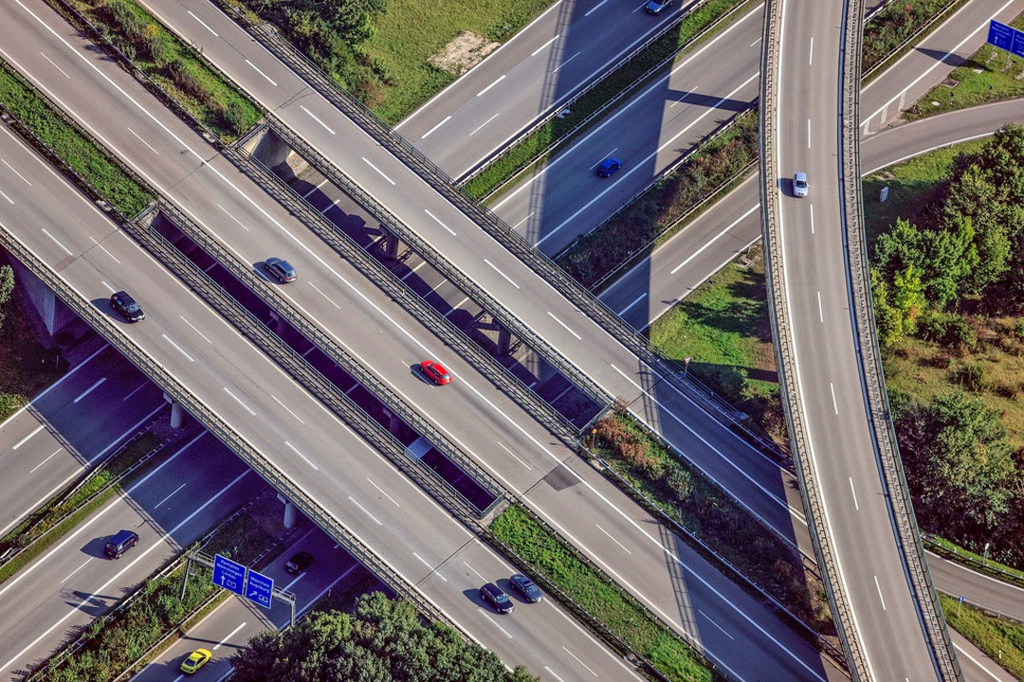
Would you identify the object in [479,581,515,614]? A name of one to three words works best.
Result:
car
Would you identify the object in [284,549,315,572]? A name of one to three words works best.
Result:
car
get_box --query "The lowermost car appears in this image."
[175,645,208,670]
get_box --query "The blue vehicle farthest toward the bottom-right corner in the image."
[509,576,545,607]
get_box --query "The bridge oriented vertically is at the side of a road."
[755,0,966,682]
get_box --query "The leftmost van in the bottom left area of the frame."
[107,527,144,558]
